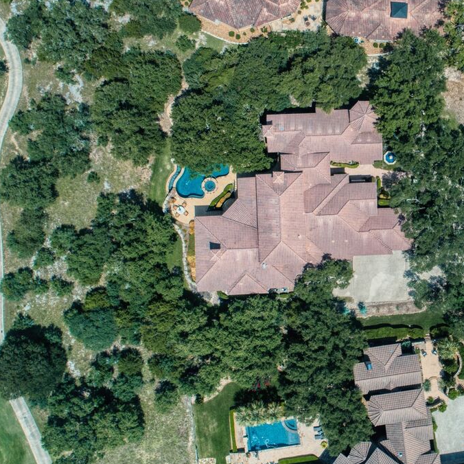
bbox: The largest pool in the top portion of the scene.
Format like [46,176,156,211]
[176,162,230,198]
